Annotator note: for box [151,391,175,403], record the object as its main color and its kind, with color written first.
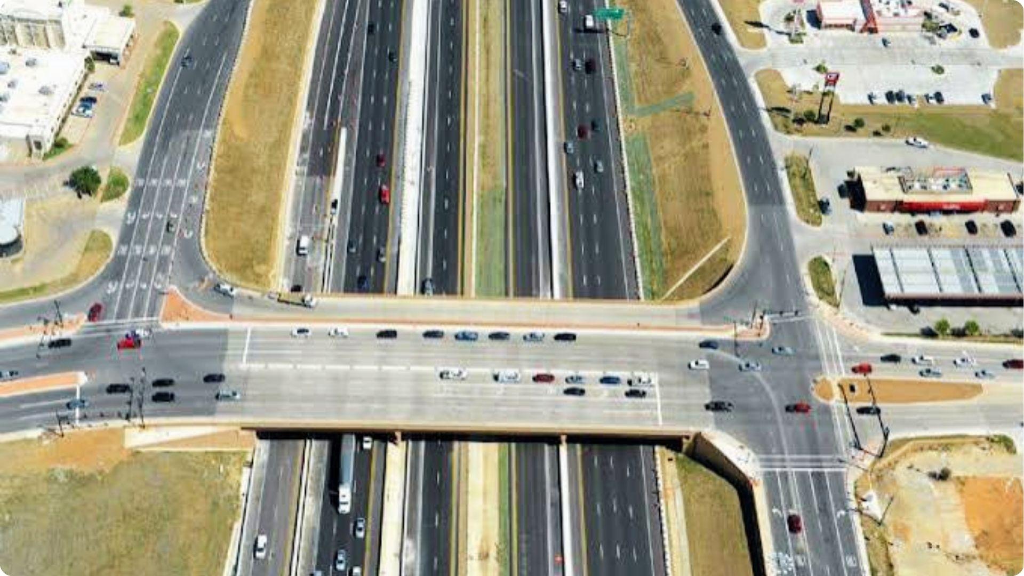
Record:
black vehicle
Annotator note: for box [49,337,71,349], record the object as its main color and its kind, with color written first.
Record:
black vehicle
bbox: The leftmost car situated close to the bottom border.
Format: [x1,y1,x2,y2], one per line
[254,536,266,558]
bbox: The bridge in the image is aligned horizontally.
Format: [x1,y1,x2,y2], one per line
[142,289,714,455]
